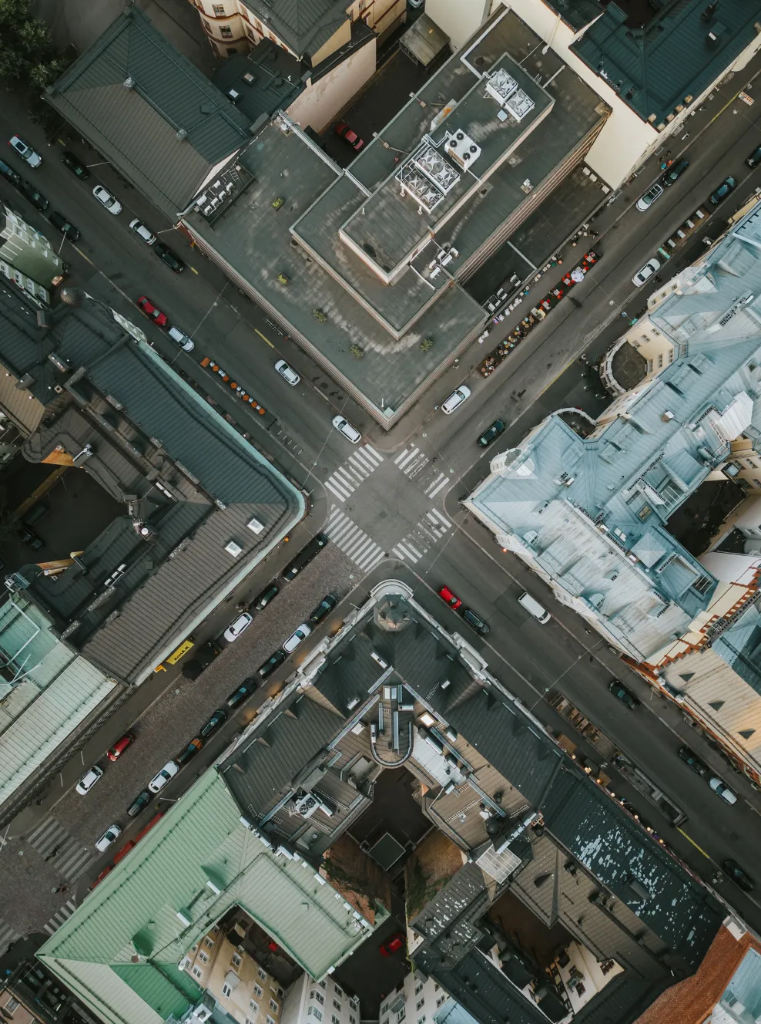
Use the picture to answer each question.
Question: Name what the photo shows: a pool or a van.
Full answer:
Visible in the photo is a van.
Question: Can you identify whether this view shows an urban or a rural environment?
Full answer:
The land in this view is best described as urban.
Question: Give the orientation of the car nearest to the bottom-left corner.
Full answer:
The car nearest to the bottom-left corner is laid out at an angle.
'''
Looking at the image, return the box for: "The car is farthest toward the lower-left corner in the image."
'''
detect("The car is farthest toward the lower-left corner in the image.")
[90,820,126,856]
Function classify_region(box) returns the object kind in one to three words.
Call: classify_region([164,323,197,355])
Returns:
car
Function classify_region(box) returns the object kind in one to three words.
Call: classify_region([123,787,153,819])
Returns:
truck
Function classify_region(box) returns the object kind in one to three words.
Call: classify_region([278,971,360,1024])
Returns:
house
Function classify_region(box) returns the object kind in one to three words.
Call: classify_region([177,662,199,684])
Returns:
umbrella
